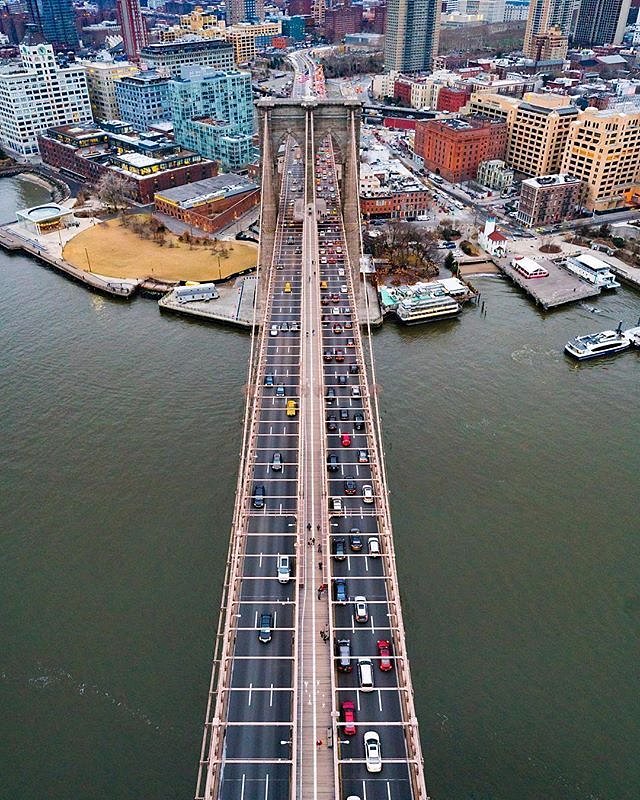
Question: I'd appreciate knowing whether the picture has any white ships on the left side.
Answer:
No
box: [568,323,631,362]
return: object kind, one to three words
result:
ship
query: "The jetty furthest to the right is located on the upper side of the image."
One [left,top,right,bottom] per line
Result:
[490,252,603,316]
